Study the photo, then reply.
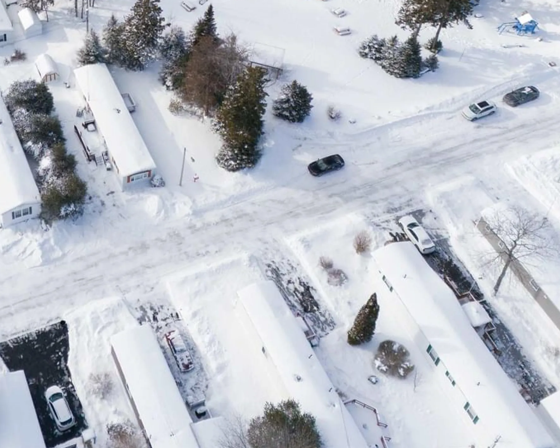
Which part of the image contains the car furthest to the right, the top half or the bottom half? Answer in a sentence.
The car furthest to the right is in the top half of the image.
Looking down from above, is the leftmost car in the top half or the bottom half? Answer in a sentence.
You can find the leftmost car in the bottom half.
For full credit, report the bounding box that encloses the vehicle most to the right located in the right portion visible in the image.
[502,84,541,109]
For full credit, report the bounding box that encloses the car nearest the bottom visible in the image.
[46,383,76,436]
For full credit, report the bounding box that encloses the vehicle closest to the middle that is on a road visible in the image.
[306,150,346,179]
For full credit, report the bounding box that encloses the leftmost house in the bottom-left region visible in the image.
[0,372,49,448]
